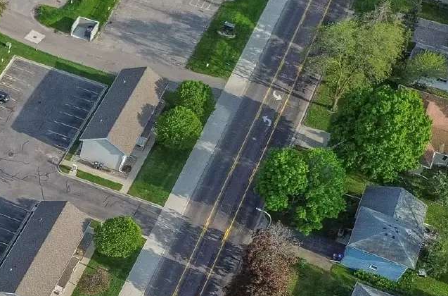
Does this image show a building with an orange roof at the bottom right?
No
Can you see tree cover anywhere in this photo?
Yes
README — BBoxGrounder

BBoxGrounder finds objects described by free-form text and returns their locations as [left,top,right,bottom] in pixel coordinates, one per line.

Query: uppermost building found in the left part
[79,66,168,166]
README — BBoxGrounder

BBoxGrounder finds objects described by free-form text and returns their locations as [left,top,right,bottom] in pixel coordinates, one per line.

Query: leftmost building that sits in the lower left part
[0,200,96,296]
